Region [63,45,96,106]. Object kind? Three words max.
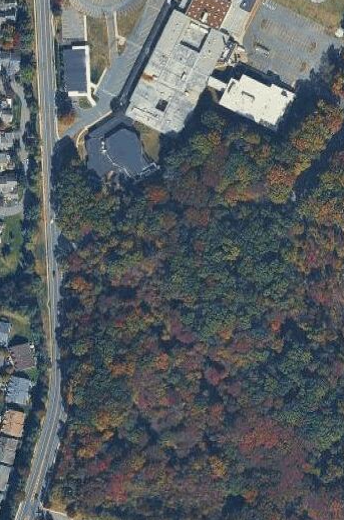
building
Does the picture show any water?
No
